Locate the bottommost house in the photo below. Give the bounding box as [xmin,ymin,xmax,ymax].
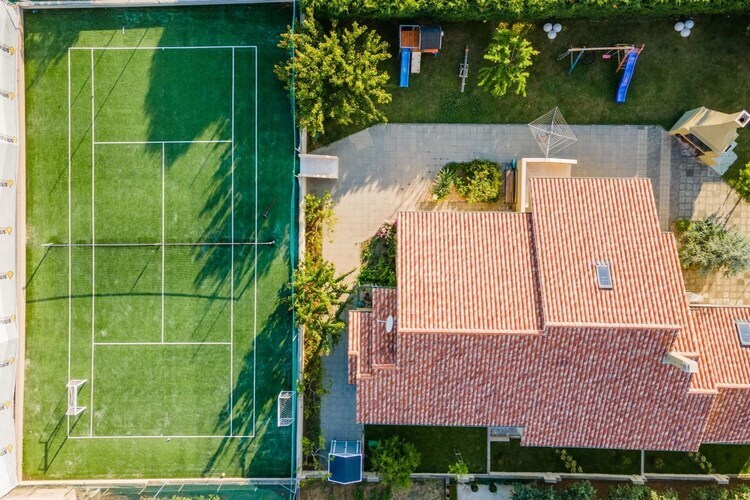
[346,157,750,449]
